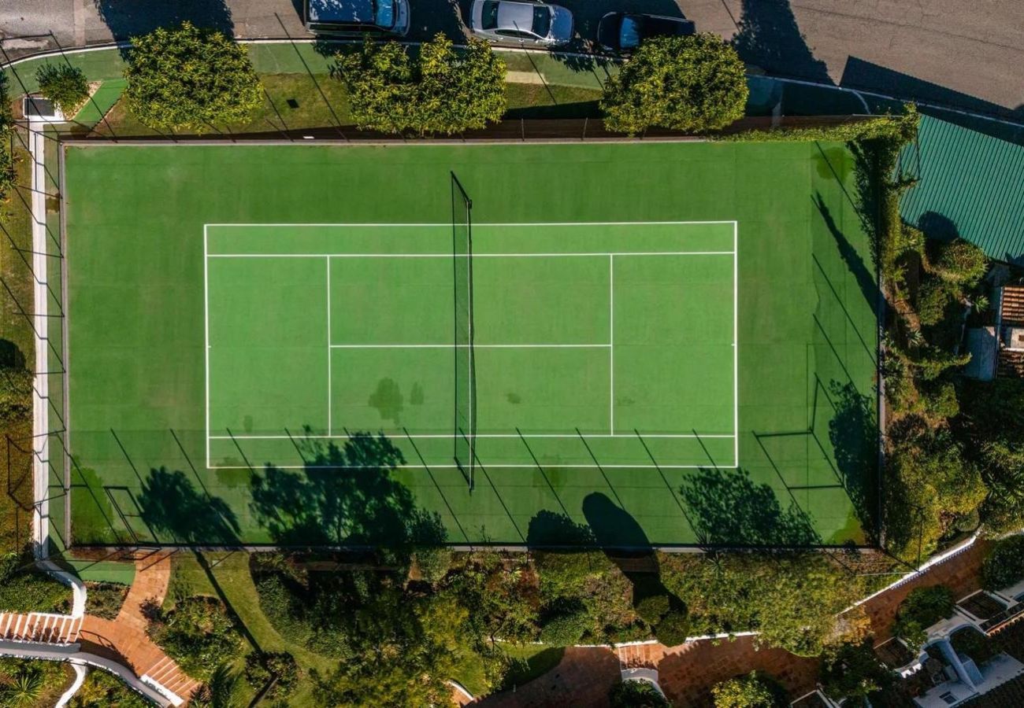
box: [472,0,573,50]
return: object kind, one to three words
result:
car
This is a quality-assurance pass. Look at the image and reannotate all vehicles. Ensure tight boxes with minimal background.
[472,0,573,50]
[300,0,411,41]
[599,4,697,56]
